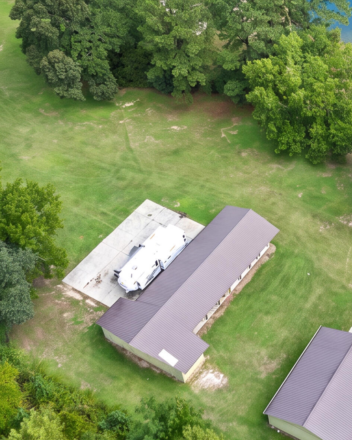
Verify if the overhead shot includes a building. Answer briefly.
Yes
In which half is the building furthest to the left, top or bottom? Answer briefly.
bottom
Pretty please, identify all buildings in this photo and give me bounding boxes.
[262,325,352,440]
[95,204,280,382]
